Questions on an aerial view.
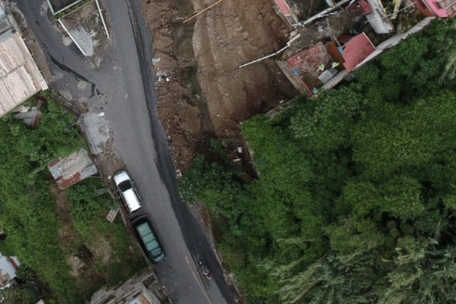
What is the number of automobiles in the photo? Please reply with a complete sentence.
The picture shows 2 automobiles.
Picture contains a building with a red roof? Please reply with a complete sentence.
Yes, there's a building with a red roof down there.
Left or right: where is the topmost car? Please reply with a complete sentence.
The topmost car is on the left side of the image.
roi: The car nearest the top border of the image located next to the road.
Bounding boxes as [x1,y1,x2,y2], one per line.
[110,168,144,218]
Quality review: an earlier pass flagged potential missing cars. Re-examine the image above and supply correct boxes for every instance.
[110,168,144,218]
[128,213,167,267]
